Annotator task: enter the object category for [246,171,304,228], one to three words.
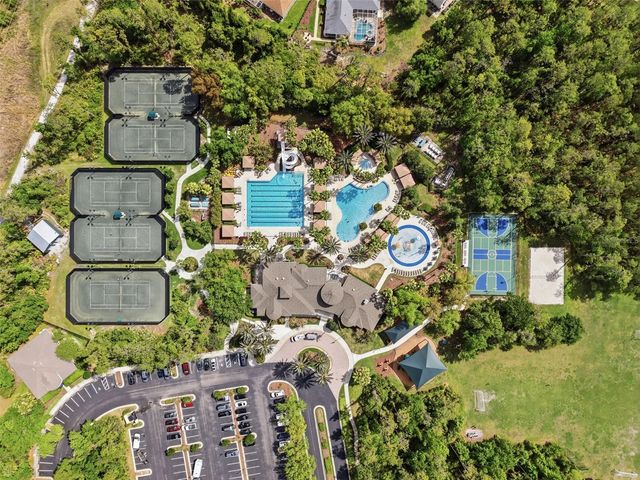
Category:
swimming pool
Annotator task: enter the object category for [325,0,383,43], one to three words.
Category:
house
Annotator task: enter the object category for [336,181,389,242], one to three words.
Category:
swimming pool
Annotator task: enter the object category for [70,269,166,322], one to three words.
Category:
tennis court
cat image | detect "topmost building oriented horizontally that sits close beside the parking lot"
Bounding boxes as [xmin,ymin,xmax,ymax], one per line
[251,262,391,331]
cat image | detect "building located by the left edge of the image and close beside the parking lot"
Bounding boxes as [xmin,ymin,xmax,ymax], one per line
[8,329,79,399]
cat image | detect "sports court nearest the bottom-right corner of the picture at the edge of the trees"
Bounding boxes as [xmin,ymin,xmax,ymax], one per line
[530,248,566,304]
